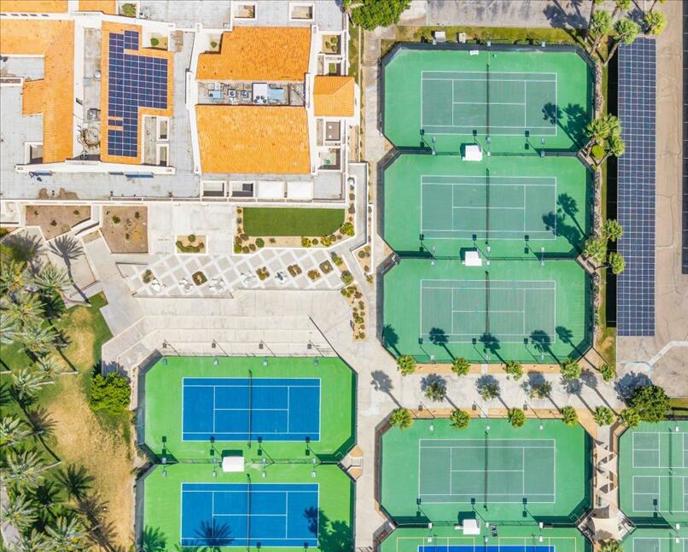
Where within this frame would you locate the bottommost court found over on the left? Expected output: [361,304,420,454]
[143,463,349,552]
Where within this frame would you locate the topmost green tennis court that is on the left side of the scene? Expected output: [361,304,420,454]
[145,355,350,463]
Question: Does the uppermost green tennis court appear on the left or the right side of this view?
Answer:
right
